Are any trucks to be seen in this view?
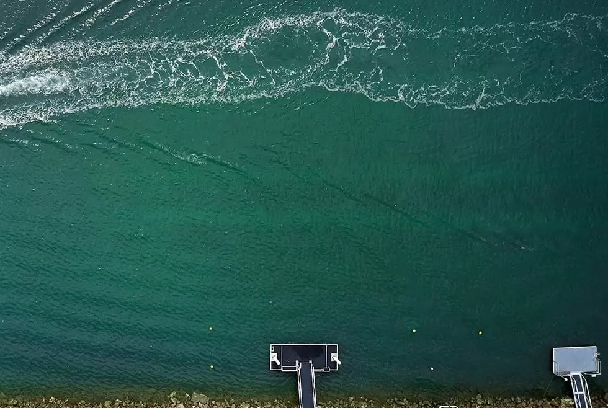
No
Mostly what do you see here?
water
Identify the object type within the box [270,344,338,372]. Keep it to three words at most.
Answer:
pier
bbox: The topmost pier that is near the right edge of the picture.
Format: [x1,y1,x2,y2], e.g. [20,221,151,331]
[552,346,604,381]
